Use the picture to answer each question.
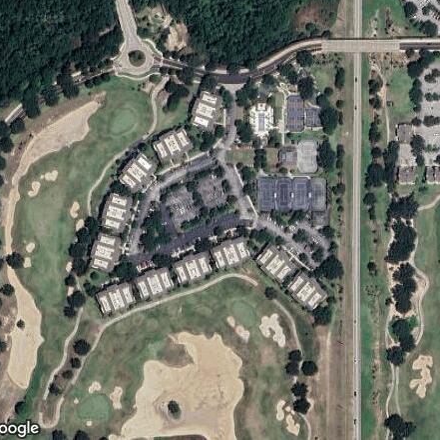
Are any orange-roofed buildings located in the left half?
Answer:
No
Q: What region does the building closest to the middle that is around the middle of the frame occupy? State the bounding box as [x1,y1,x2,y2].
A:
[212,241,250,268]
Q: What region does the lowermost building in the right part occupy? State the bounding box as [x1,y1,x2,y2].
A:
[288,273,326,308]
